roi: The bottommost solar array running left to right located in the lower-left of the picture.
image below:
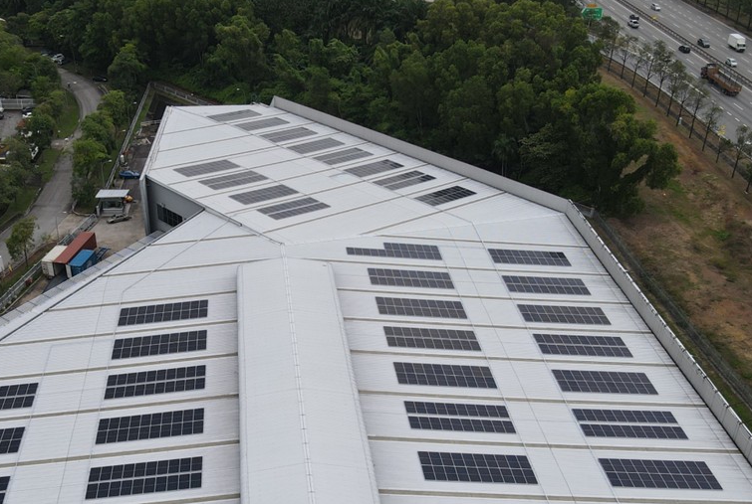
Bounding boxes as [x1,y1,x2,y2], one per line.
[85,456,203,498]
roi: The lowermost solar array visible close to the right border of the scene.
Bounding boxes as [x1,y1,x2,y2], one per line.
[598,457,723,489]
